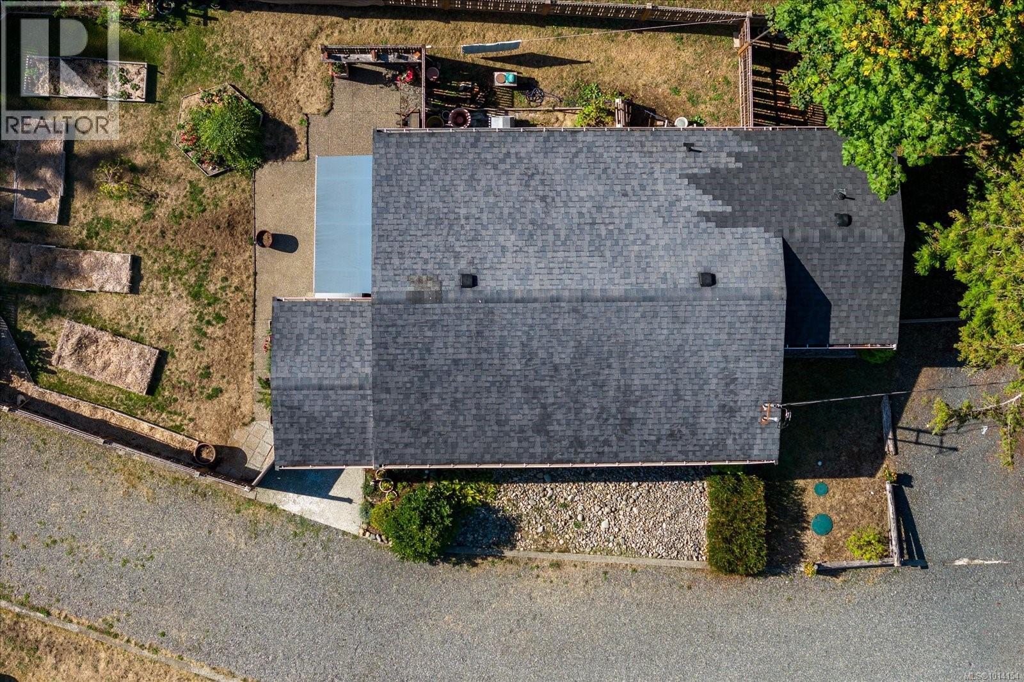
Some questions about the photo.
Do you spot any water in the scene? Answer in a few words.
No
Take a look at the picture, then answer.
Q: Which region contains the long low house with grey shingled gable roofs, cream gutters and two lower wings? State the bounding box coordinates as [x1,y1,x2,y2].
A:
[266,129,902,468]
